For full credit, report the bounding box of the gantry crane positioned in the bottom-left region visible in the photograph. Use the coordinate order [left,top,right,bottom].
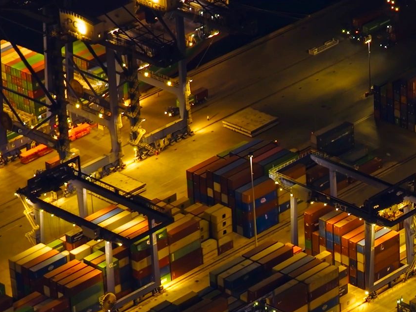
[3,163,176,312]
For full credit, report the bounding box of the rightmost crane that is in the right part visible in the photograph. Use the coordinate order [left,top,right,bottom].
[259,150,416,301]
